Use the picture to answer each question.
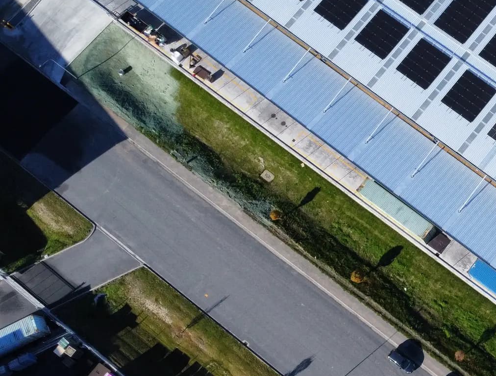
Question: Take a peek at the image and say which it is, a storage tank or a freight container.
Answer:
freight container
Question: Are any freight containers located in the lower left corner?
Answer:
Yes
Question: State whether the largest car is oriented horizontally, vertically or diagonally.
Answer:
diagonally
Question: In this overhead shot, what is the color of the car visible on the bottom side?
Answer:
black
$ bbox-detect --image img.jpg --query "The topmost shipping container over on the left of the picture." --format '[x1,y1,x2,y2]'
[0,315,48,355]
